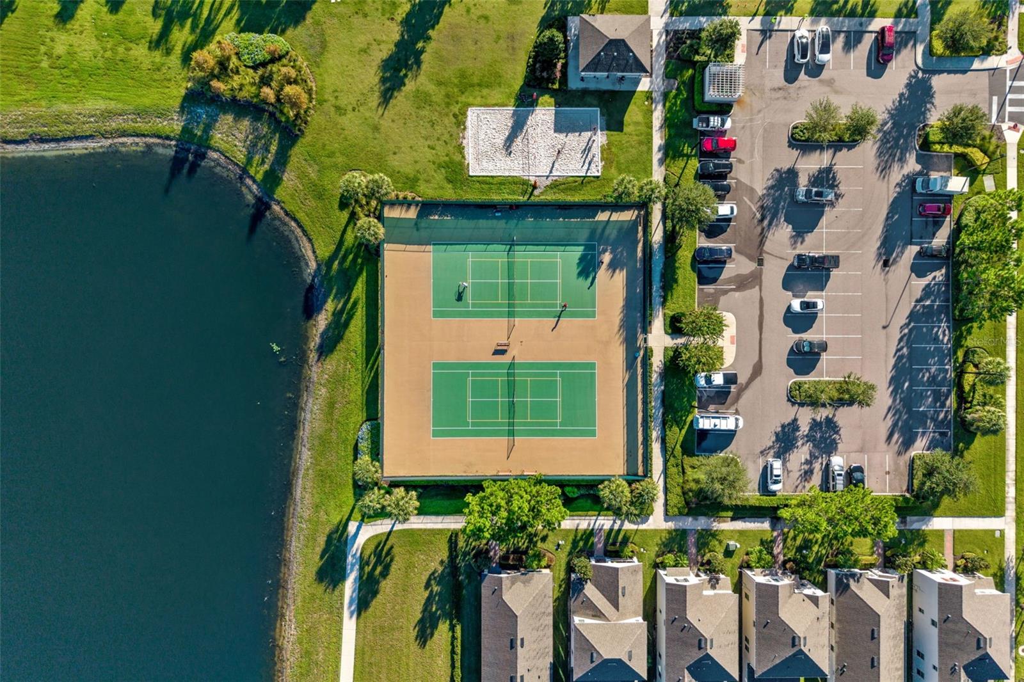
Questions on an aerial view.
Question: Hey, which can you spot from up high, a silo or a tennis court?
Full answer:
Looking from above, you can make out a tennis court.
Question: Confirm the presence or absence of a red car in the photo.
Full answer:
Yes, the picture does show a red car.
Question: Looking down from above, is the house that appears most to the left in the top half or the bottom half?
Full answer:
You can find the house that appears most to the left in the bottom half.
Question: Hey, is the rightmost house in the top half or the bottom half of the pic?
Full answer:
It is in the bottom half that the rightmost house appears.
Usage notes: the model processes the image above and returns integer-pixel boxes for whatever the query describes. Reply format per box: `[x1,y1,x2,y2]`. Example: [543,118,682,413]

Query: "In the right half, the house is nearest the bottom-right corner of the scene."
[914,569,1010,682]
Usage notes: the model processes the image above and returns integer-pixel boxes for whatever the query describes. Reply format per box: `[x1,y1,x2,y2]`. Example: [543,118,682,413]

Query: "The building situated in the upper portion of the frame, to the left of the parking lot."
[579,14,651,81]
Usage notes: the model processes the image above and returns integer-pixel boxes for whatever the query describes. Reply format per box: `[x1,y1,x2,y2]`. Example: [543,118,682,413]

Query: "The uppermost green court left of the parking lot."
[432,235,597,325]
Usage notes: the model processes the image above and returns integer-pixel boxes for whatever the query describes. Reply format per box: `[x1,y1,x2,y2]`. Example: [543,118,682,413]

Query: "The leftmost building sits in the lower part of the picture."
[481,561,553,682]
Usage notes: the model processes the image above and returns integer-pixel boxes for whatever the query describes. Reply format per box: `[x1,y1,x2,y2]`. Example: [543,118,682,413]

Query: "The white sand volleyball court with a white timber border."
[468,94,602,187]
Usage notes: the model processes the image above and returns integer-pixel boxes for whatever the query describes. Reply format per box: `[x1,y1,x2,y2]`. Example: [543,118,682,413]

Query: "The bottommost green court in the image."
[432,356,597,446]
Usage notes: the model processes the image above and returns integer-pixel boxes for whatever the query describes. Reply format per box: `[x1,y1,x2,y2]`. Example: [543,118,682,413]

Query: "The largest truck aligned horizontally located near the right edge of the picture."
[911,175,973,196]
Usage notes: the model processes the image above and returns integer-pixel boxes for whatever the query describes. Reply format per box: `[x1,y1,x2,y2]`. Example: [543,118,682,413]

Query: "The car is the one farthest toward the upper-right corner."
[876,26,895,63]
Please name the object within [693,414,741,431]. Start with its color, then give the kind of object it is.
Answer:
white vehicle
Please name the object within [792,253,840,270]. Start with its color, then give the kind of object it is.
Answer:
black vehicle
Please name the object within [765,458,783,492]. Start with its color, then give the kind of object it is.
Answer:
white car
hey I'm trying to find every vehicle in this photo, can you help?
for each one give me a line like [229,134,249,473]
[918,243,949,258]
[792,30,810,64]
[792,253,840,270]
[695,245,731,262]
[847,461,865,482]
[813,28,831,64]
[695,373,737,389]
[876,26,895,63]
[765,458,783,492]
[789,298,824,314]
[697,180,731,196]
[702,136,736,153]
[827,455,846,492]
[911,175,973,196]
[917,201,951,217]
[710,205,737,219]
[698,159,732,175]
[793,187,835,204]
[792,338,827,355]
[690,114,732,131]
[693,414,741,431]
